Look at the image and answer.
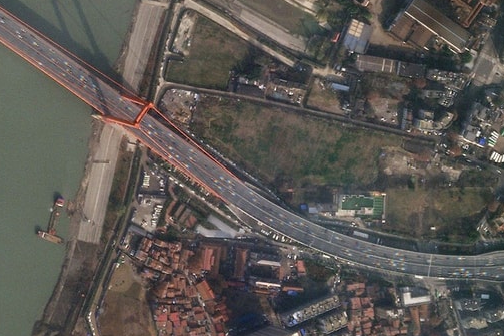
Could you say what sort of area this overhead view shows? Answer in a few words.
port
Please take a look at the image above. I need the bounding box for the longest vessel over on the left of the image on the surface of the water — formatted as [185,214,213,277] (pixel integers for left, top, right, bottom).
[38,229,64,244]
